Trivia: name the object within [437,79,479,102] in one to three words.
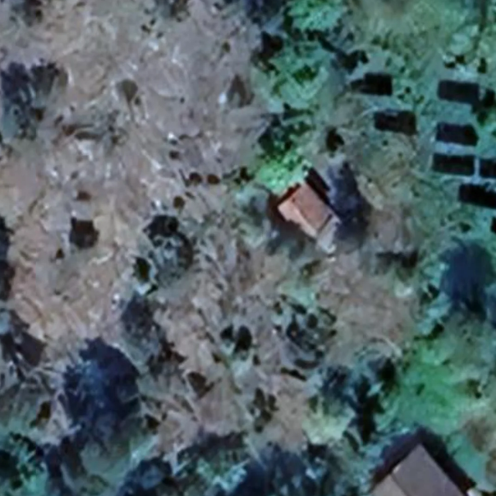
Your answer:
solar array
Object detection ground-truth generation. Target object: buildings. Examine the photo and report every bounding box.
[278,183,334,237]
[370,444,464,496]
